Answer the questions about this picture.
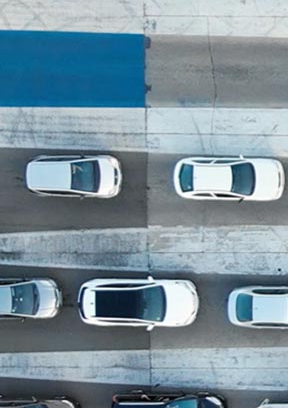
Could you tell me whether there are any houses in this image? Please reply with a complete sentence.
No, the frame has no house in it.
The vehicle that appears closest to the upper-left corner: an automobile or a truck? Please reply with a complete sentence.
The vehicle that appears closest to the upper-left corner is an automobile.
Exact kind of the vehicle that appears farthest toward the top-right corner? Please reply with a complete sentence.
The vehicle that appears farthest toward the top-right corner can be classified as an automobile.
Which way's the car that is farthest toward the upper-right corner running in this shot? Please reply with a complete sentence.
The car that is farthest toward the upper-right corner is oriented horizontally.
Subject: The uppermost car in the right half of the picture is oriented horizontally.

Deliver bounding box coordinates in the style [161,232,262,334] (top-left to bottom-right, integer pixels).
[173,154,287,205]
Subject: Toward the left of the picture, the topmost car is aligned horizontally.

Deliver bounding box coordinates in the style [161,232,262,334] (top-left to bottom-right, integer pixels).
[23,152,123,201]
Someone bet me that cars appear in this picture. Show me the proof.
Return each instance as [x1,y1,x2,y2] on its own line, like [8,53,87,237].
[0,275,64,324]
[228,285,288,330]
[23,152,123,201]
[77,277,201,330]
[173,154,287,205]
[109,391,228,408]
